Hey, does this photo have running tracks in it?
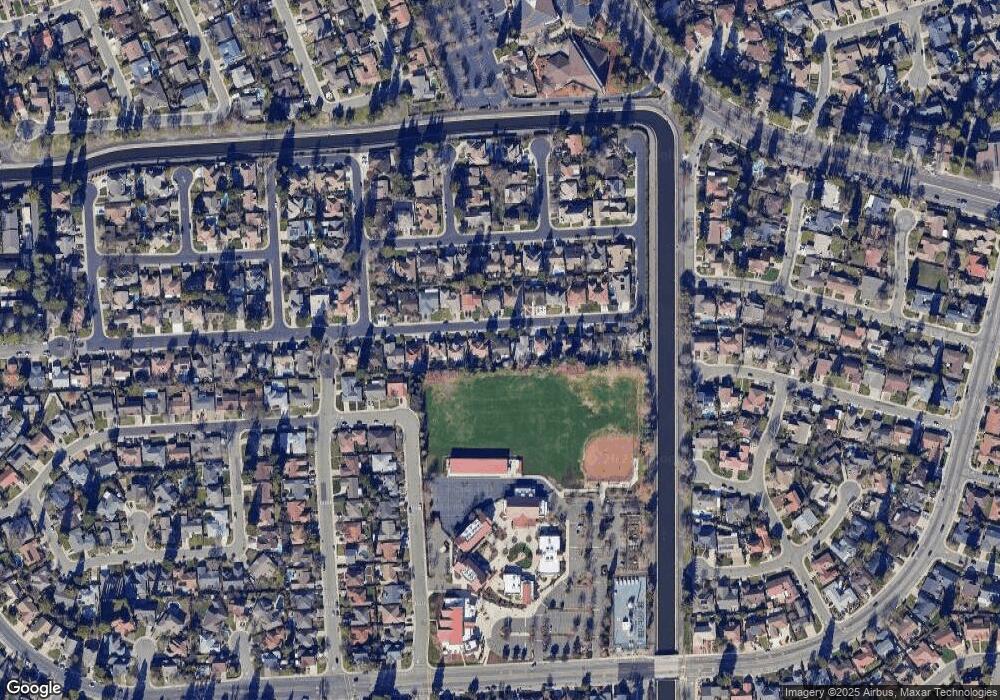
No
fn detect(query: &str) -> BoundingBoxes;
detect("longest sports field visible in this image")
[429,368,645,487]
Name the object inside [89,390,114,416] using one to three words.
house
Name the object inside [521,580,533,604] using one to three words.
building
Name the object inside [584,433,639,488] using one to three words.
baseball field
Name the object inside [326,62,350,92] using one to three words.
house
